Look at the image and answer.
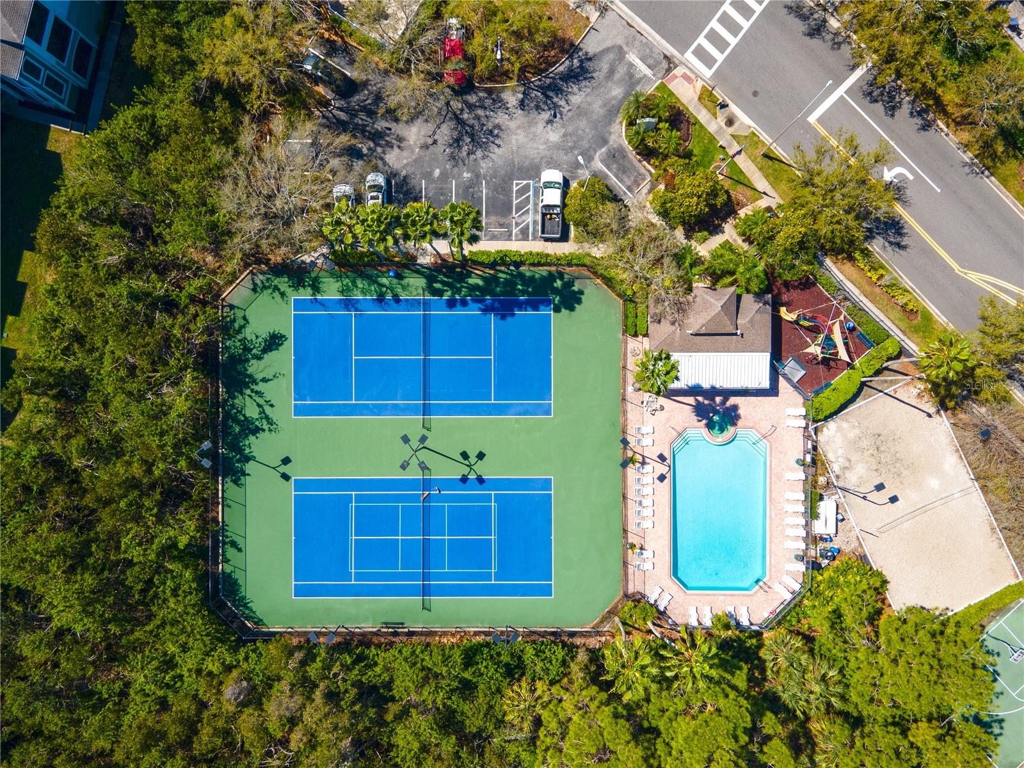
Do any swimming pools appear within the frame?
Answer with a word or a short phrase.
Yes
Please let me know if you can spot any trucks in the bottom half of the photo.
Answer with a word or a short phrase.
No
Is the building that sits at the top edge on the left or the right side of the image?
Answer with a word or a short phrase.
left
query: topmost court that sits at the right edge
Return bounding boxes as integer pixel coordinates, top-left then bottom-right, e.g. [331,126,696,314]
[813,378,1024,617]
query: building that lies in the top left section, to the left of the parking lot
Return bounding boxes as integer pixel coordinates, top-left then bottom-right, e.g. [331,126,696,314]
[0,0,125,113]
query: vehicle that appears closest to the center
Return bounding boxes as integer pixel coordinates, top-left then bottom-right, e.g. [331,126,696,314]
[538,171,566,239]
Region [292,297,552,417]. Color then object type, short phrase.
blue tennis court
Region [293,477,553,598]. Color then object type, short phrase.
blue tennis court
